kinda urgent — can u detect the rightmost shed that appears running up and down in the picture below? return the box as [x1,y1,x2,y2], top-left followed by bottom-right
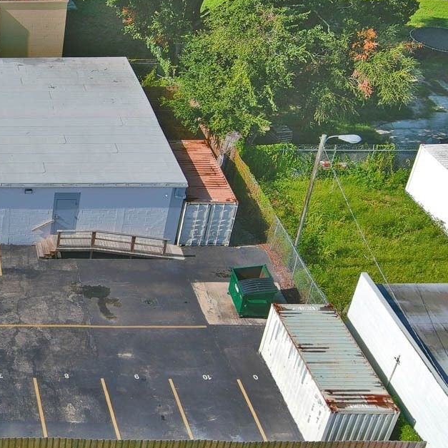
[407,147,448,238]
